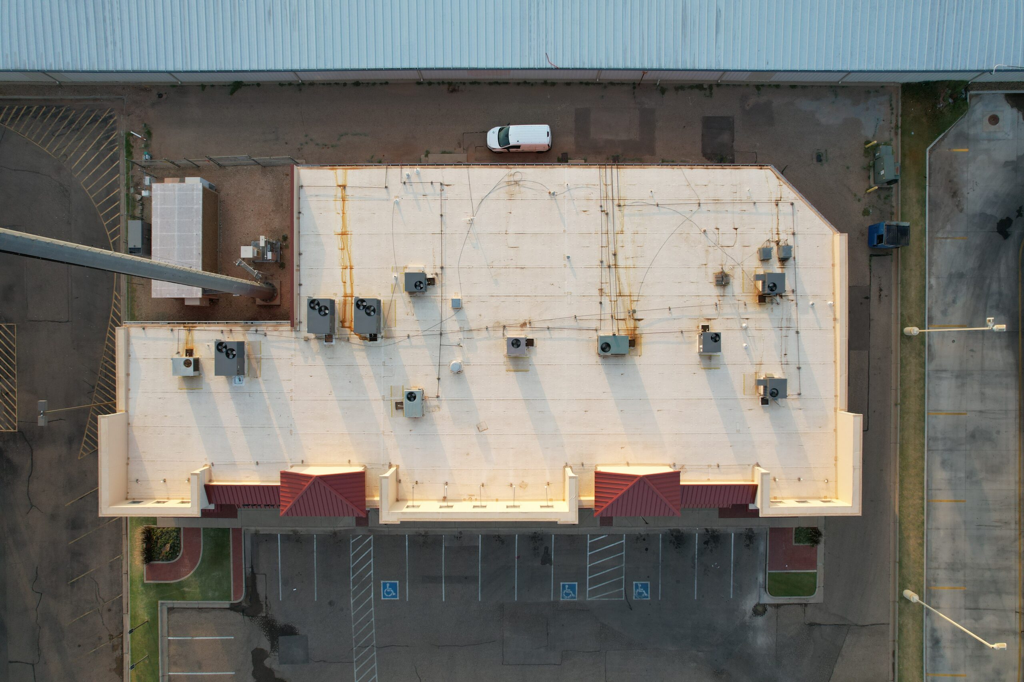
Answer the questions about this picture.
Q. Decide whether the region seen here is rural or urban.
urban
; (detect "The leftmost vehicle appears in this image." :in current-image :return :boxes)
[487,124,553,154]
